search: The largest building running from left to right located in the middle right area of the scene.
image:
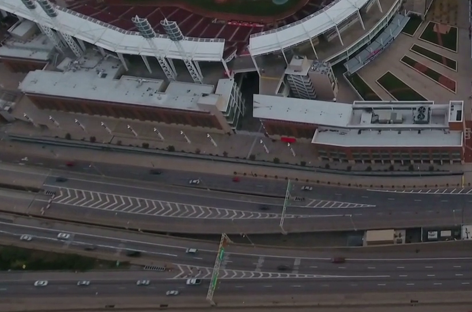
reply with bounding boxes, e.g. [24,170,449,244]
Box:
[253,95,464,163]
